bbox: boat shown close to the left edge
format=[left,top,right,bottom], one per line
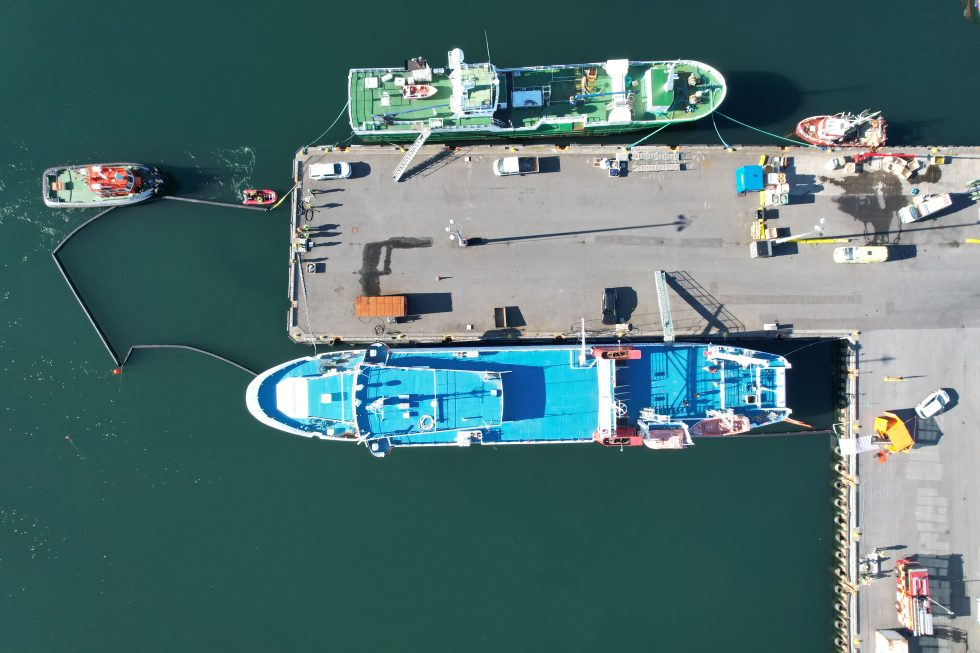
[42,161,171,210]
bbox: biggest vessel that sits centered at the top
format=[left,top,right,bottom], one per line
[346,31,727,146]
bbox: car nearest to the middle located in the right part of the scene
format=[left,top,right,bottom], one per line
[602,287,621,325]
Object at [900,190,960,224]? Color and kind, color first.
white truck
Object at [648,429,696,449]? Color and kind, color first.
white boat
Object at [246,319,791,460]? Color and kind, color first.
blue ship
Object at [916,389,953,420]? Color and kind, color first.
white car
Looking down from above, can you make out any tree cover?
No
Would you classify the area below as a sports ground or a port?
port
